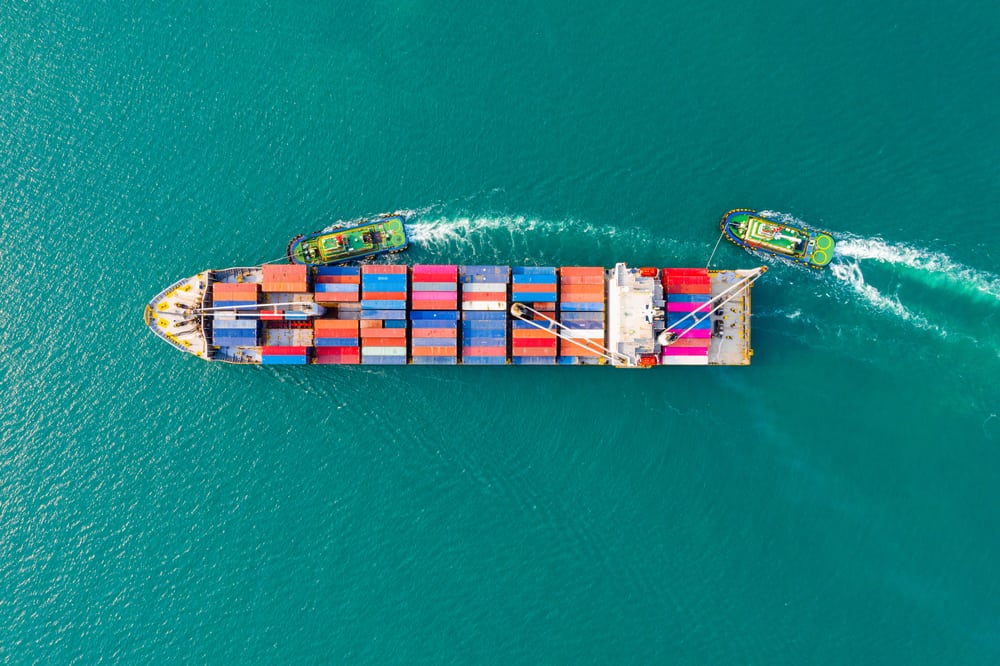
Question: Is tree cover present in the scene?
No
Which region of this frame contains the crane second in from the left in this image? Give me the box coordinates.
[510,304,629,362]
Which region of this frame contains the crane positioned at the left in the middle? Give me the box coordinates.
[191,303,336,319]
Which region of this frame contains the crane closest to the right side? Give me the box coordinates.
[654,266,768,346]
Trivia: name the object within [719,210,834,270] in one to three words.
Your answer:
boat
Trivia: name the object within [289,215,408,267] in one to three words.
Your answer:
boat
